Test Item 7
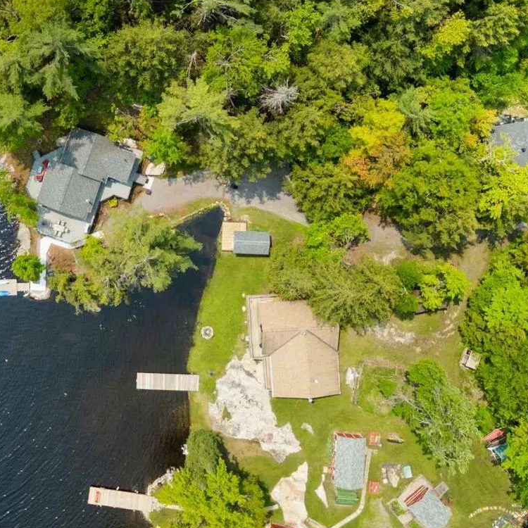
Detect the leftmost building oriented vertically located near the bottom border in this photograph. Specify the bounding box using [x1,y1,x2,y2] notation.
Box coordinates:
[330,431,366,507]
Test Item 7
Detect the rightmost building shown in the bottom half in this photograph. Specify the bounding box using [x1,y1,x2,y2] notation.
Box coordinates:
[397,475,452,528]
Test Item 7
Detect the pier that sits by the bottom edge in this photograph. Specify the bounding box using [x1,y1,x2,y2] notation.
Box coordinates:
[87,484,156,515]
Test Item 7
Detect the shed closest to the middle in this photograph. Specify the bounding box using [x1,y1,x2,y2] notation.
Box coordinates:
[221,222,271,255]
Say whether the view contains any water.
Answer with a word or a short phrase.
Yes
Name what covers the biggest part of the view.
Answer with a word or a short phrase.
trees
